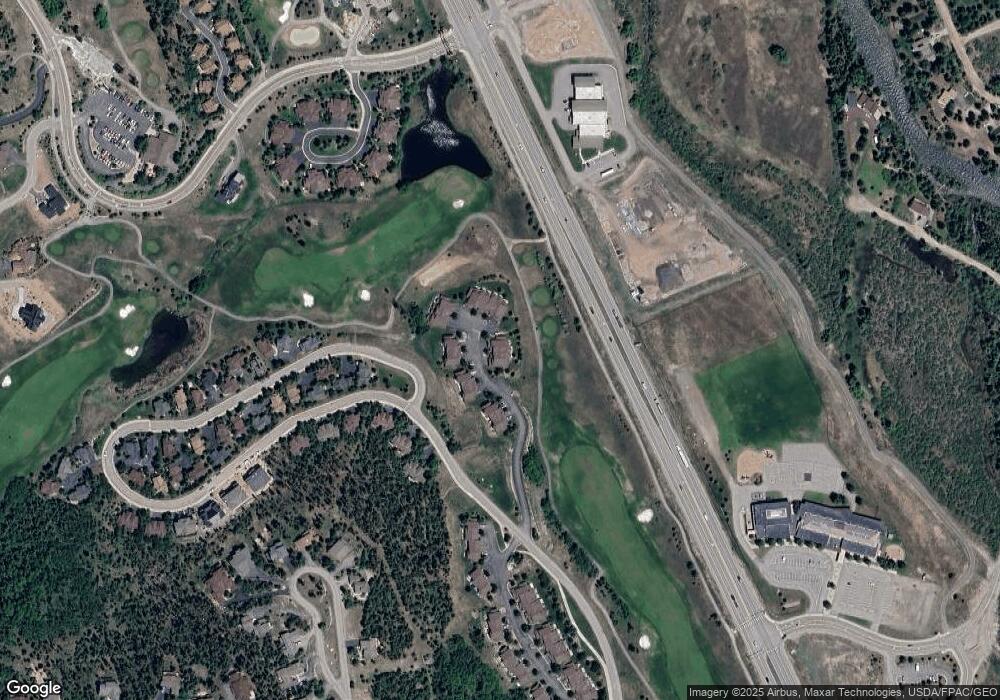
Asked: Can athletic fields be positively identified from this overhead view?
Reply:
Yes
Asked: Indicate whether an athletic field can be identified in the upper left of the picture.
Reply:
No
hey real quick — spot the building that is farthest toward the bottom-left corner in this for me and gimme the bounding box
[99,679,120,699]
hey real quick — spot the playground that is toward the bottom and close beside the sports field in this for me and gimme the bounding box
[737,448,775,483]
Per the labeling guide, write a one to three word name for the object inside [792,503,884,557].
building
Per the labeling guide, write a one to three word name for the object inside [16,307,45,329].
house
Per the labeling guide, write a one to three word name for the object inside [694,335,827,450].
sports field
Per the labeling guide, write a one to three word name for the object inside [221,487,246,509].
house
